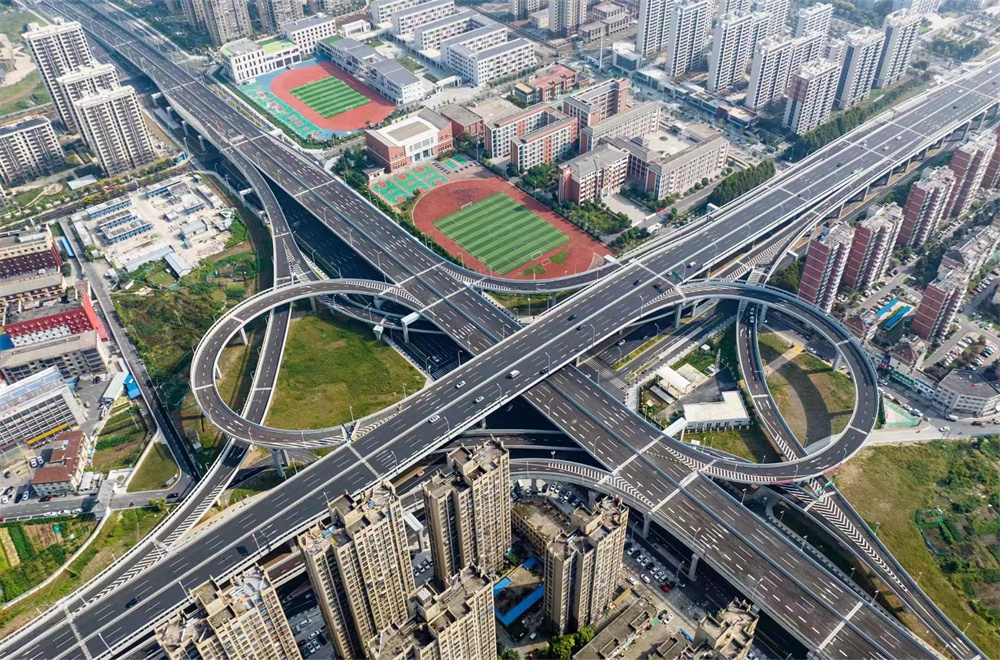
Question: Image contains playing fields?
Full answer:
Yes, there's a playing field down there.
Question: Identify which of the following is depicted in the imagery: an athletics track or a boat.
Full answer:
This aerial view contains an athletics track.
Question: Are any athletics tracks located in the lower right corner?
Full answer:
No, no athletics track is visible in the lower right corner.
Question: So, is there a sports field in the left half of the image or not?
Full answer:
Yes, there is a sports field in the left half of the image.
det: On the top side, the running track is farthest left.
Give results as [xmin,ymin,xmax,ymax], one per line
[271,60,396,131]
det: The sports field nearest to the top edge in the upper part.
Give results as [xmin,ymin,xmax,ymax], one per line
[227,48,396,139]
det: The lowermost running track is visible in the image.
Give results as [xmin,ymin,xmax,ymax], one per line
[413,178,616,279]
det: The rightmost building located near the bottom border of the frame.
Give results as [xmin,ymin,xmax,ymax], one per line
[668,581,762,660]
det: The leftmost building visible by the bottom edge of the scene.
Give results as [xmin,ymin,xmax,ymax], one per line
[147,560,296,660]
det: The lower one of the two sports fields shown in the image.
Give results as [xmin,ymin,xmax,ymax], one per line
[379,153,617,279]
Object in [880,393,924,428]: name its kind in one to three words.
sports court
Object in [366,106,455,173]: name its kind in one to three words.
building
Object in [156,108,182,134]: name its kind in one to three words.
shed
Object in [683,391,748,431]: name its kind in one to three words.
building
